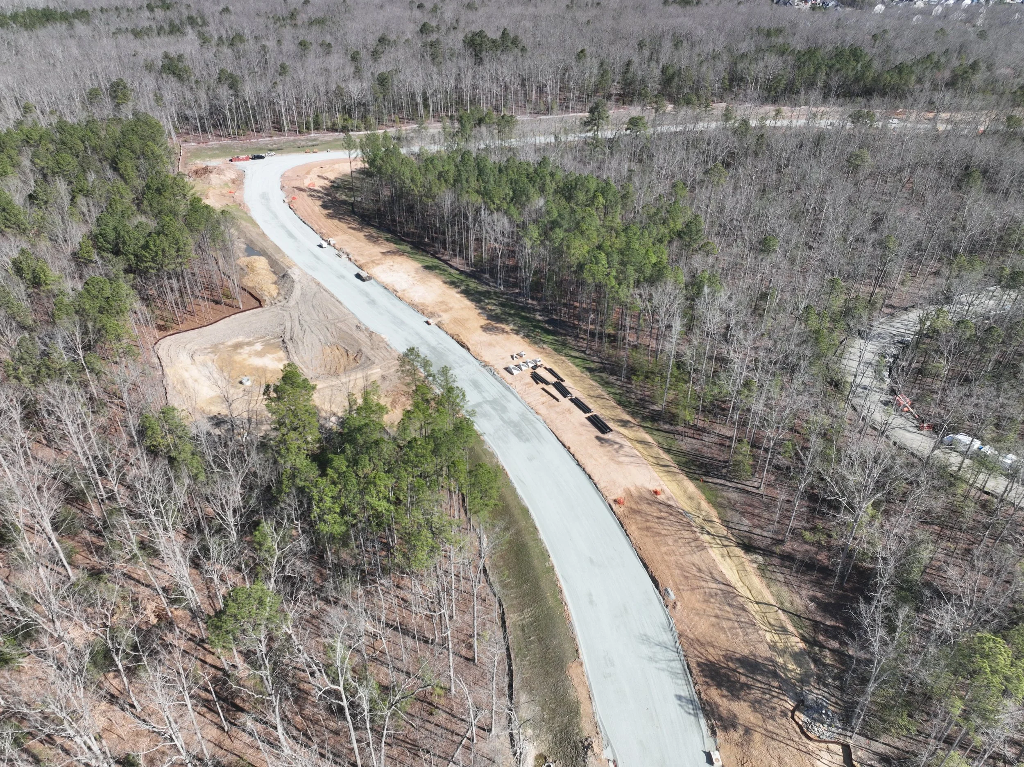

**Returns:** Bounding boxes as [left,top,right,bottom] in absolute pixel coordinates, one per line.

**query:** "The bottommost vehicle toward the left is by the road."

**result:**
[355,265,371,278]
